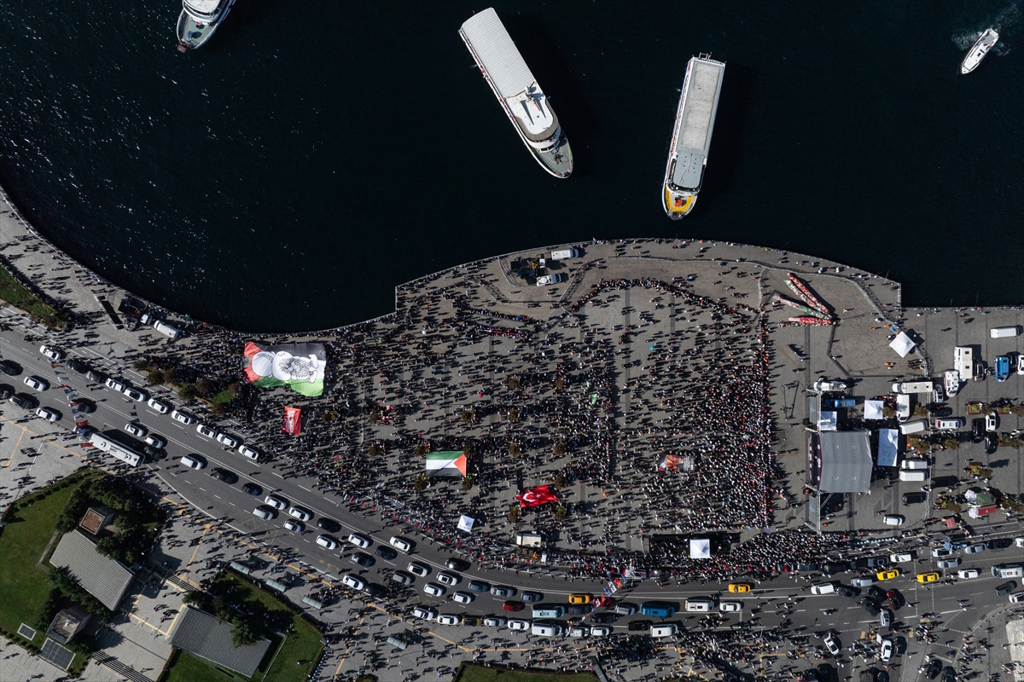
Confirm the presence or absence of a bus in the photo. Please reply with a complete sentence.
Yes, looking at the shot, I can spot a bus.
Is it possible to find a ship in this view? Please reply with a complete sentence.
Yes, you can see a ship in this photo.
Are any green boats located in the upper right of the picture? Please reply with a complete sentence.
No, no green boat can be made out in the upper right of the picture.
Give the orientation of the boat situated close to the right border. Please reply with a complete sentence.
The boat situated close to the right border runs on a diagonal in the image.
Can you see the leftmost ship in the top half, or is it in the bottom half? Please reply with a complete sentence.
The leftmost ship is in the top half of the image.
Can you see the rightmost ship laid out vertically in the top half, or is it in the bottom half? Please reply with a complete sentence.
The rightmost ship laid out vertically sits in the top half of the picture.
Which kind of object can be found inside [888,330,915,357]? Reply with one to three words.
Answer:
tent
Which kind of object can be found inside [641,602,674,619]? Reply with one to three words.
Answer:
vehicle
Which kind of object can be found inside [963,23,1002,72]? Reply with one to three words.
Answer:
boat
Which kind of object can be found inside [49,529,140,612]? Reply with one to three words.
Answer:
building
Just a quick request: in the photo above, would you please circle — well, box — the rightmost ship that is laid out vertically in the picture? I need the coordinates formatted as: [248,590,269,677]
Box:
[665,49,729,223]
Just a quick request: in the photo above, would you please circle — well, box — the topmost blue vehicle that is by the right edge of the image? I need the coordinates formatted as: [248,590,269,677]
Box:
[993,354,1012,381]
